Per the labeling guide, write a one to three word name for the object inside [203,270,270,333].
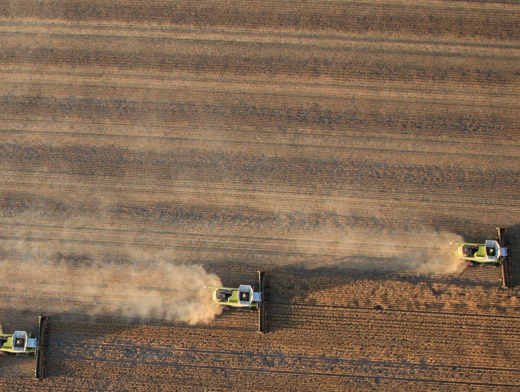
work vehicle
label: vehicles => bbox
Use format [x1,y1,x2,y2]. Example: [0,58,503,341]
[0,316,51,379]
[447,226,515,288]
[203,270,270,333]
